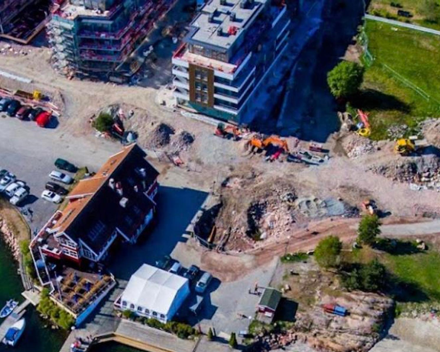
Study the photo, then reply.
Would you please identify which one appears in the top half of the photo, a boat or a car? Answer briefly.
car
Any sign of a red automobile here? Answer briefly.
Yes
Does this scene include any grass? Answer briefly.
Yes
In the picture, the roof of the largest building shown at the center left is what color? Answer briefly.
black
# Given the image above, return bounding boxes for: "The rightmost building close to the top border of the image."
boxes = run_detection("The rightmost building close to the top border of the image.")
[171,0,341,124]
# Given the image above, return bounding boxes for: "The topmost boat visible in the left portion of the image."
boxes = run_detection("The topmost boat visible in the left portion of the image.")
[0,298,20,318]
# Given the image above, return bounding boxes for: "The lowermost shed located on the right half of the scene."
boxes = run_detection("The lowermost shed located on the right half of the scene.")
[254,288,287,318]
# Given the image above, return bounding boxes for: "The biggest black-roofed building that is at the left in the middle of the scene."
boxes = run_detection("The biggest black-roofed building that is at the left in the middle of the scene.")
[30,136,166,269]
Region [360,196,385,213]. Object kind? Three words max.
work vehicle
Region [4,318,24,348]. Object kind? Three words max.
boat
